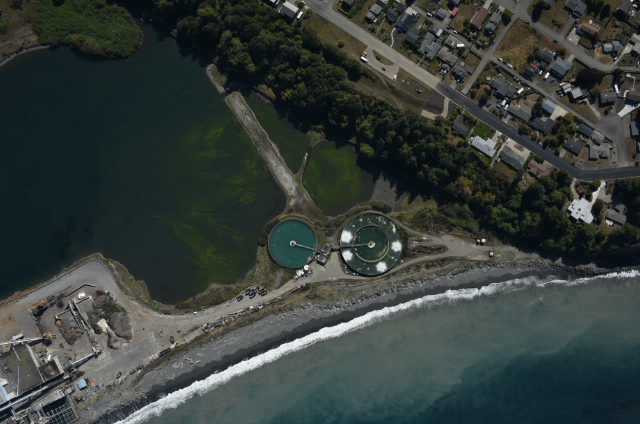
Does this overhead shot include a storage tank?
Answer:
Yes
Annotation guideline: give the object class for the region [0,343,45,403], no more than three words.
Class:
building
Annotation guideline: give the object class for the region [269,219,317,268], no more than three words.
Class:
storage tank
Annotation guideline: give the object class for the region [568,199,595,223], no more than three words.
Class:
house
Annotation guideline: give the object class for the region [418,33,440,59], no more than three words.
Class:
house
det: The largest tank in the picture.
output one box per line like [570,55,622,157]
[331,213,402,275]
